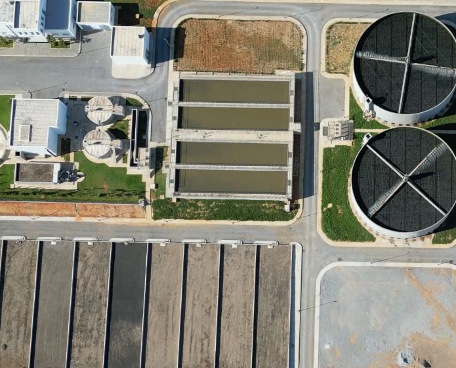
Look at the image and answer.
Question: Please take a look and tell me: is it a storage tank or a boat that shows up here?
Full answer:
The one in the frame is a storage tank.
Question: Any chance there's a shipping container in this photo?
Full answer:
No, no shipping container can be seen from above.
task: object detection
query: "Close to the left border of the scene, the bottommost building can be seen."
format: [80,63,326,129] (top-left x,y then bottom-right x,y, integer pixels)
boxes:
[9,98,66,153]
